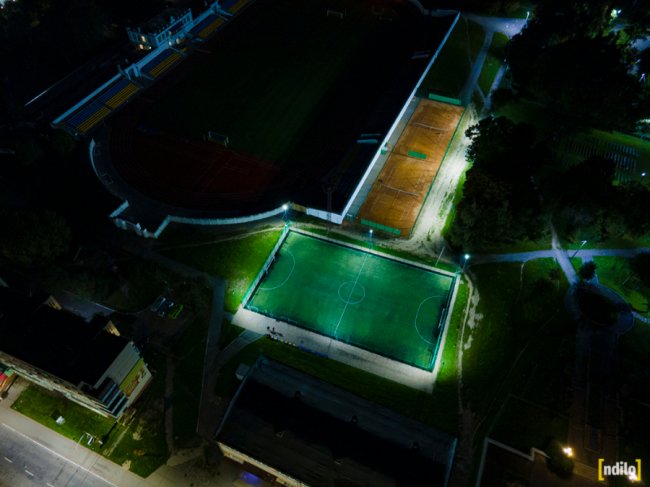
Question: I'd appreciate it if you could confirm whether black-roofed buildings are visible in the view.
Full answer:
Yes, there's a black-roofed building down there.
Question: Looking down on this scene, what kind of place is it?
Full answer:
The area seen from above is a sports ground.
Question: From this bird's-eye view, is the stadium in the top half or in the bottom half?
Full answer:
The top half of the photo is where the stadium is.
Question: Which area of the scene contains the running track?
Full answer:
The running track sits in the top section of the image.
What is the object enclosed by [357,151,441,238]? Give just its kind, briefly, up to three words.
tennis court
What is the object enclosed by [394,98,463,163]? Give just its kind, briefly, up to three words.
tennis court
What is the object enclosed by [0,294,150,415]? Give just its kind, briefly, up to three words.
building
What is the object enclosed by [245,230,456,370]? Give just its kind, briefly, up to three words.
soccer field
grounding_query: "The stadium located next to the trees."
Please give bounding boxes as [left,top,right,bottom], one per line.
[51,0,462,235]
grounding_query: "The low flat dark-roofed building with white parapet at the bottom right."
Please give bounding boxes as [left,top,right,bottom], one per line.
[475,437,554,487]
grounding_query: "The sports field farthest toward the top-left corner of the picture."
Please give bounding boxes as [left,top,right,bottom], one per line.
[133,4,404,170]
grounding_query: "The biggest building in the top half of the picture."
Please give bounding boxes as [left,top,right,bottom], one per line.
[128,8,193,53]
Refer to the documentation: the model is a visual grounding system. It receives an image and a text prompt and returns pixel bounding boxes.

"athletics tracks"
[99,0,424,218]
